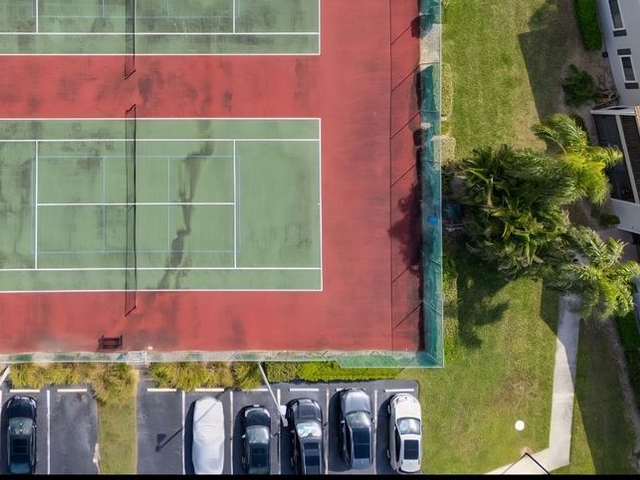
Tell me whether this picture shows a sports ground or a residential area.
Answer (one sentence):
This image shows a sports ground.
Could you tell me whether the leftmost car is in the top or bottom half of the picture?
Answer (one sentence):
The leftmost car is in the bottom half of the image.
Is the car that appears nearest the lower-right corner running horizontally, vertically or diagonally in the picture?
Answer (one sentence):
Seen from above, the car that appears nearest the lower-right corner lies vertically.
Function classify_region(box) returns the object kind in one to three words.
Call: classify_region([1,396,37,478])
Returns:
car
